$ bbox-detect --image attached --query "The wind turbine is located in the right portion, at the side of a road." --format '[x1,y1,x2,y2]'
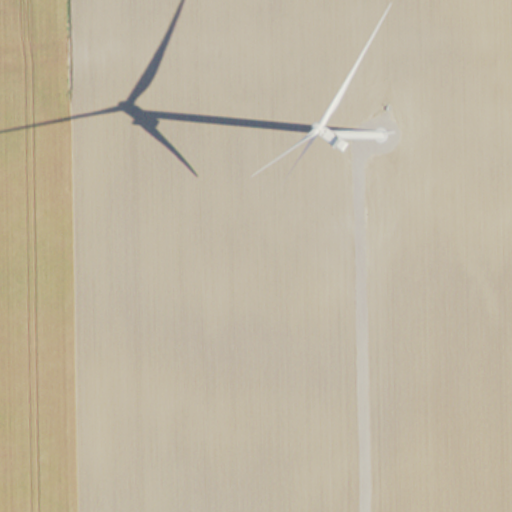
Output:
[252,2,396,183]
